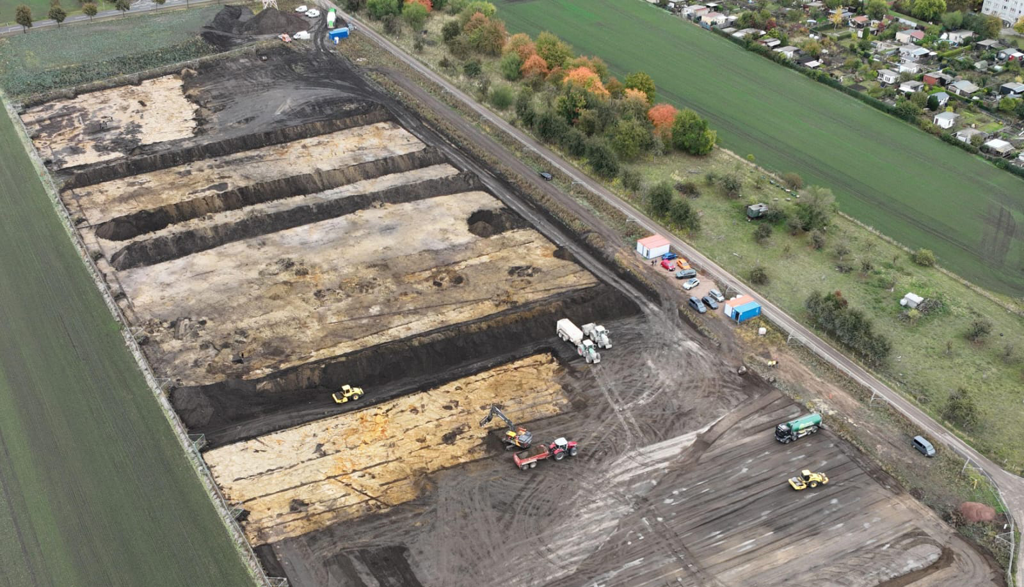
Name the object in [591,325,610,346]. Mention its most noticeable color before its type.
white work vehicle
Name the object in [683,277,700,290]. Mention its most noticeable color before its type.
white vehicle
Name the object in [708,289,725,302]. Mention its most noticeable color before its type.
white vehicle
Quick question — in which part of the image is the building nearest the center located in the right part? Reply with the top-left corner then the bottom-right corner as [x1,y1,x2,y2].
[637,234,669,259]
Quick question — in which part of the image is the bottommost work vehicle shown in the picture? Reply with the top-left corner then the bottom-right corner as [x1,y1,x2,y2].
[790,470,826,490]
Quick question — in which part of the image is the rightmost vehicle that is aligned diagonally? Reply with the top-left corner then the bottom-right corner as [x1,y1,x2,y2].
[909,434,936,456]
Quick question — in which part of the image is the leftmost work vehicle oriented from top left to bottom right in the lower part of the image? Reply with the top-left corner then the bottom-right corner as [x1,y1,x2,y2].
[477,407,531,451]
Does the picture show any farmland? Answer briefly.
Yes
